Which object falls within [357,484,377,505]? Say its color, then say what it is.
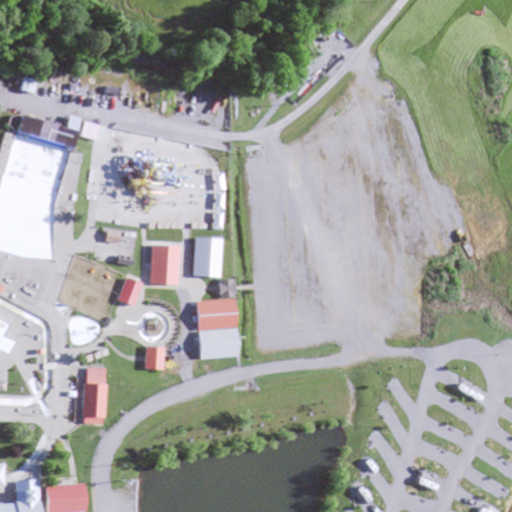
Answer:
white vehicle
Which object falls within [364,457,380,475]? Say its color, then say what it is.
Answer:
white vehicle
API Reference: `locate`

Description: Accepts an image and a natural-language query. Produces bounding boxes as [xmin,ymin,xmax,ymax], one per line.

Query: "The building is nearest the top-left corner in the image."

[8,116,78,146]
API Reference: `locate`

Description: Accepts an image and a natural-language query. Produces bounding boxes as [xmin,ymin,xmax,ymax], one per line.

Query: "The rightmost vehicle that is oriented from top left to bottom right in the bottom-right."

[459,382,486,402]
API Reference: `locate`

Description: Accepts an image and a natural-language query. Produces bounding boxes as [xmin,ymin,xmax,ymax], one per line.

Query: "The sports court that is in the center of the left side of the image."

[58,254,124,320]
